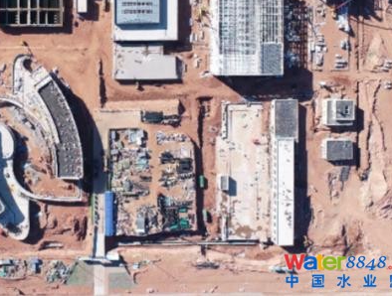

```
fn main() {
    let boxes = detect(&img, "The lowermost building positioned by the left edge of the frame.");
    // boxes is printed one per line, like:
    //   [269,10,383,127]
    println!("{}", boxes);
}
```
[0,56,84,240]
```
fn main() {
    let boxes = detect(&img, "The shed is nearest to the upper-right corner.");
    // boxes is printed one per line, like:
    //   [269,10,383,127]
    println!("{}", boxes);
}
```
[322,101,355,124]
